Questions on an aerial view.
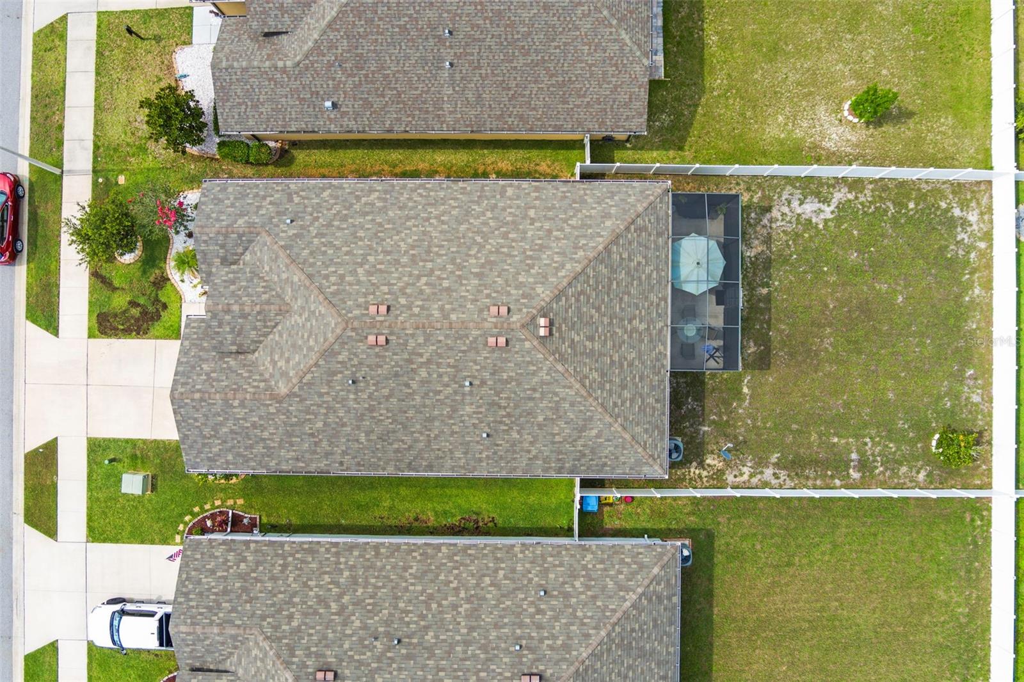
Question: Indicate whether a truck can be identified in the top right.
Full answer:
No, no truck can be made out in the top right.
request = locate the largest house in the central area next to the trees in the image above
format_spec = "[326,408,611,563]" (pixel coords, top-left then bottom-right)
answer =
[171,180,669,475]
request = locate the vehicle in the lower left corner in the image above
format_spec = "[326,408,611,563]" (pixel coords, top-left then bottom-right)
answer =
[87,595,176,656]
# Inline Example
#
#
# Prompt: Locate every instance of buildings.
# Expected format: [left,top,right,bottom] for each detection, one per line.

[171,180,669,475]
[171,510,681,682]
[188,0,652,140]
